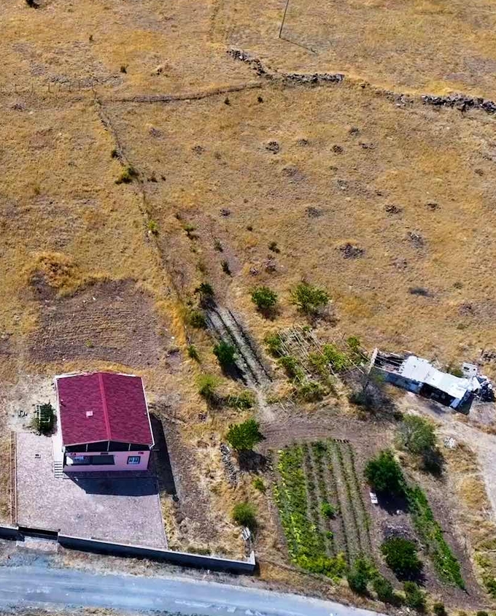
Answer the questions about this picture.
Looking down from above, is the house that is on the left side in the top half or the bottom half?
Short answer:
bottom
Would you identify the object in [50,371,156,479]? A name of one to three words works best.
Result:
house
